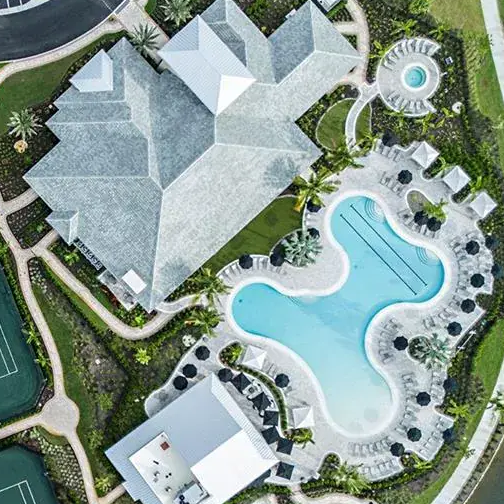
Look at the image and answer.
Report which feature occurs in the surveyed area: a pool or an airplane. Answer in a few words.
pool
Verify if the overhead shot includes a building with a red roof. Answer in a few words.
No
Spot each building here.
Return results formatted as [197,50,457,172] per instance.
[24,0,364,312]
[105,374,279,504]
